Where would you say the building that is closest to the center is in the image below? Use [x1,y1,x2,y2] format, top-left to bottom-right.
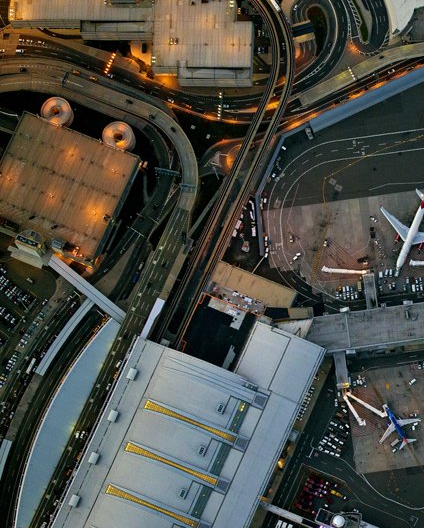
[210,261,298,308]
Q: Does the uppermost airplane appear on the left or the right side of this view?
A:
right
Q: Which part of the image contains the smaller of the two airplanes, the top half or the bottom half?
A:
bottom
